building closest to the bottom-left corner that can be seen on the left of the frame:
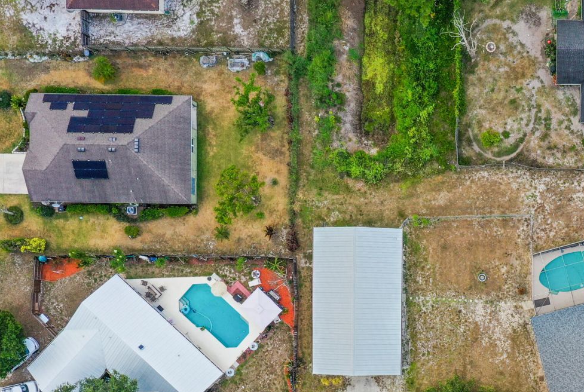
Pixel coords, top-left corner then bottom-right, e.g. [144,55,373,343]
[27,274,225,392]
